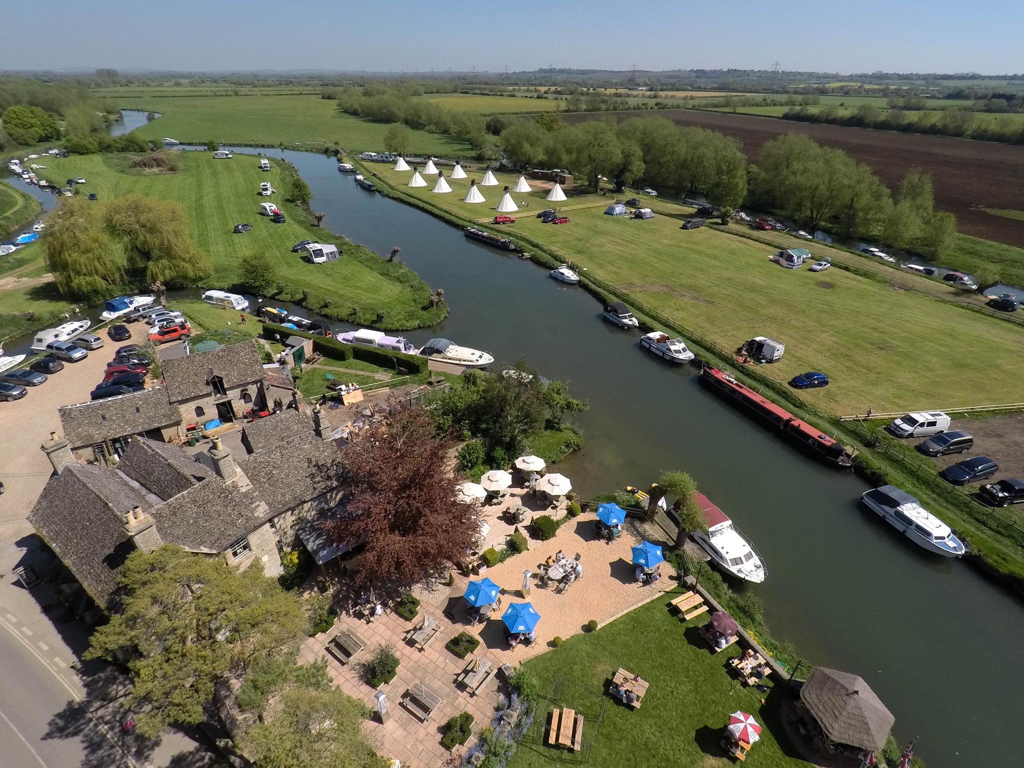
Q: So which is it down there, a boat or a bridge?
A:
boat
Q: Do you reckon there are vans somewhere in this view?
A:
Yes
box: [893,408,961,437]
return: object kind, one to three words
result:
van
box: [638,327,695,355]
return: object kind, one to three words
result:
boat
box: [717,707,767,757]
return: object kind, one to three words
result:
umbrella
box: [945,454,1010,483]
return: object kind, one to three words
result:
car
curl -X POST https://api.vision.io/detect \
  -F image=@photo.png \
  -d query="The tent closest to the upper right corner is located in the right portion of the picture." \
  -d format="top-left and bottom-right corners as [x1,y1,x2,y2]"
[774,247,814,267]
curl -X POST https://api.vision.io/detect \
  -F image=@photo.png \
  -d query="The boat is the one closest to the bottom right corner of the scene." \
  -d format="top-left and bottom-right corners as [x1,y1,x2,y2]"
[855,483,976,559]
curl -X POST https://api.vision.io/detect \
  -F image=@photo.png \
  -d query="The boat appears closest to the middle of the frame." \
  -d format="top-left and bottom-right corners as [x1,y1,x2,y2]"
[501,367,535,380]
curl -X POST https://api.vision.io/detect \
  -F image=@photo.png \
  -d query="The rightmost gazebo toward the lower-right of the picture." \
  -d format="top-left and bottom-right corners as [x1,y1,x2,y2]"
[791,666,893,768]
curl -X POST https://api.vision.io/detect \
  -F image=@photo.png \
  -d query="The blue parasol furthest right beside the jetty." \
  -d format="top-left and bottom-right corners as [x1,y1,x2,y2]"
[629,543,664,571]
